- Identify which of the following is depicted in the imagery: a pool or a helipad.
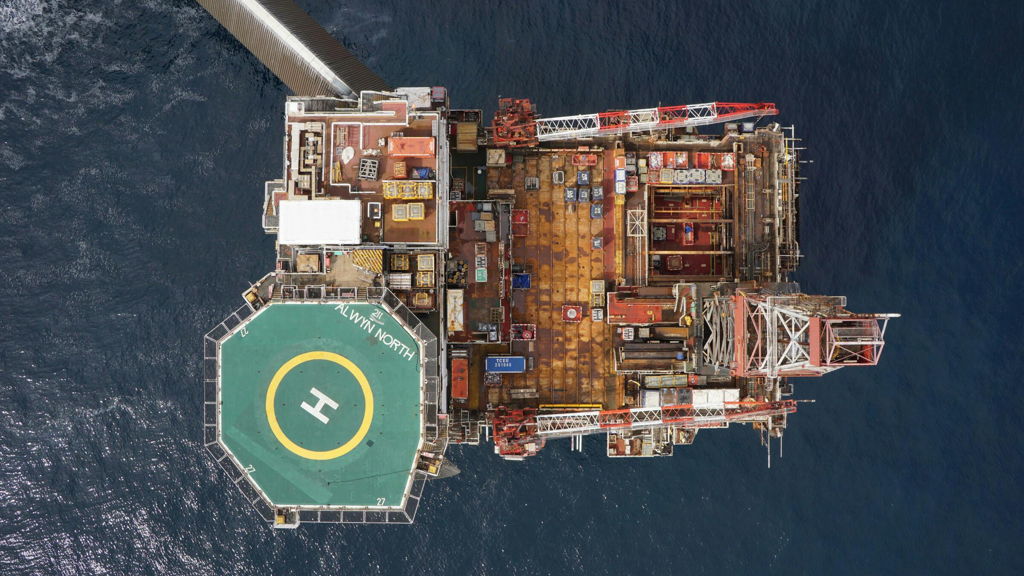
helipad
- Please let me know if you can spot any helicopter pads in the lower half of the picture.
Yes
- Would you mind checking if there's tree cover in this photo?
No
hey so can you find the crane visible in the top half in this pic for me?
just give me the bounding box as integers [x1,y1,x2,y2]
[486,94,779,150]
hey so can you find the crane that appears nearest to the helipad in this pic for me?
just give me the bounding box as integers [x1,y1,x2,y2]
[486,398,816,460]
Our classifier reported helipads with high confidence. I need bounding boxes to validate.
[204,272,449,527]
